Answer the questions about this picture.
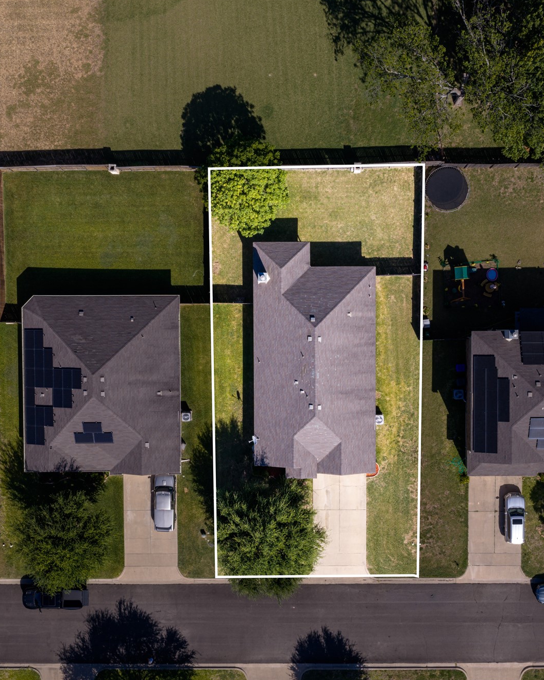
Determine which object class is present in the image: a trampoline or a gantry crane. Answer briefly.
trampoline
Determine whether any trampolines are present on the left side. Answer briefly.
No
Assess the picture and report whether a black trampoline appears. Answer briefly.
Yes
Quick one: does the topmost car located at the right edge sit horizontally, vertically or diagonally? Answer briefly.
vertically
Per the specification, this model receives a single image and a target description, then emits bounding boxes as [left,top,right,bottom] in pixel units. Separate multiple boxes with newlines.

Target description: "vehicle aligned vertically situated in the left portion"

[153,475,177,533]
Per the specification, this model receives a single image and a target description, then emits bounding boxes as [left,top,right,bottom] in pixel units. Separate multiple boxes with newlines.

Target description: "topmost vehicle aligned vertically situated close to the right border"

[501,490,527,541]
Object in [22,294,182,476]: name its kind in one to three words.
house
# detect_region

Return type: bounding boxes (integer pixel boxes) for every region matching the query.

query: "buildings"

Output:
[22,294,182,476]
[250,241,376,479]
[464,308,544,476]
